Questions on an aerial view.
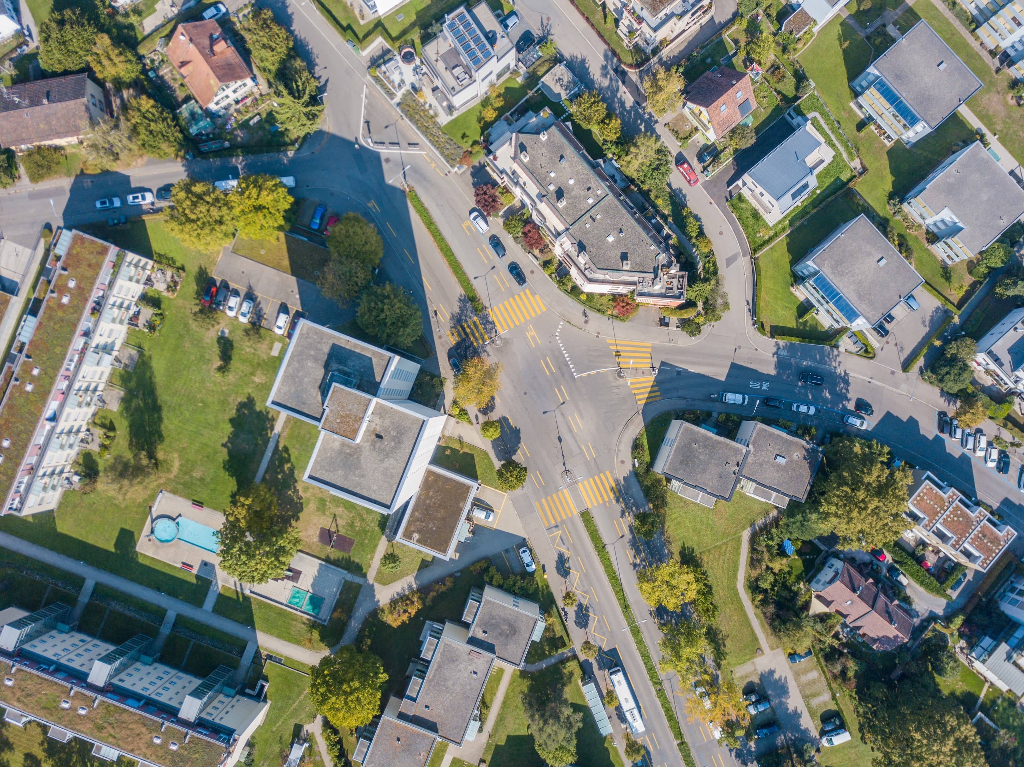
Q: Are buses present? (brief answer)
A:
Yes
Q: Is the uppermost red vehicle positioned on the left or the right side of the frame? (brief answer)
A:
right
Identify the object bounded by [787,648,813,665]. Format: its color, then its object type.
blue car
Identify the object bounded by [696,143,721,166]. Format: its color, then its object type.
blue car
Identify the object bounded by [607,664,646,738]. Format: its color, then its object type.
white bus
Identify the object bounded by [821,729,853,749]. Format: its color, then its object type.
white vehicle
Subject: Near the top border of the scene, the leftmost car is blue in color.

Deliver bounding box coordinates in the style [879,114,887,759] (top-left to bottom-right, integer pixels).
[201,4,227,20]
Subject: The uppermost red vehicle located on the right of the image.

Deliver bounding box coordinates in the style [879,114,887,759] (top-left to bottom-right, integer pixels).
[674,160,698,188]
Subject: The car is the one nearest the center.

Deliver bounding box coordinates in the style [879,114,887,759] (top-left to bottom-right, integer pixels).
[448,354,466,377]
